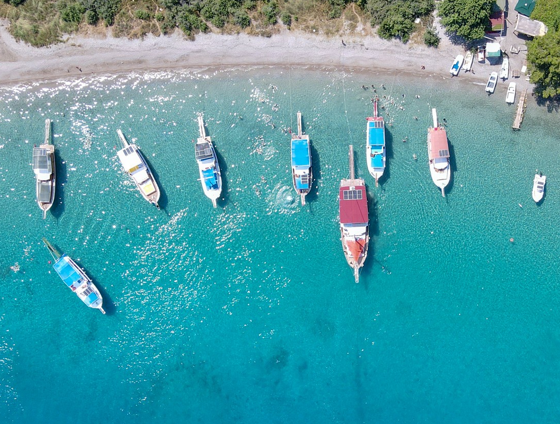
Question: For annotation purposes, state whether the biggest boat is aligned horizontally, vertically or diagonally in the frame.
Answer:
vertically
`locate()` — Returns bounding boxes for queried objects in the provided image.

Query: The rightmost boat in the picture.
[532,171,546,202]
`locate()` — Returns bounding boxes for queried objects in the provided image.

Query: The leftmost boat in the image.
[32,119,58,219]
